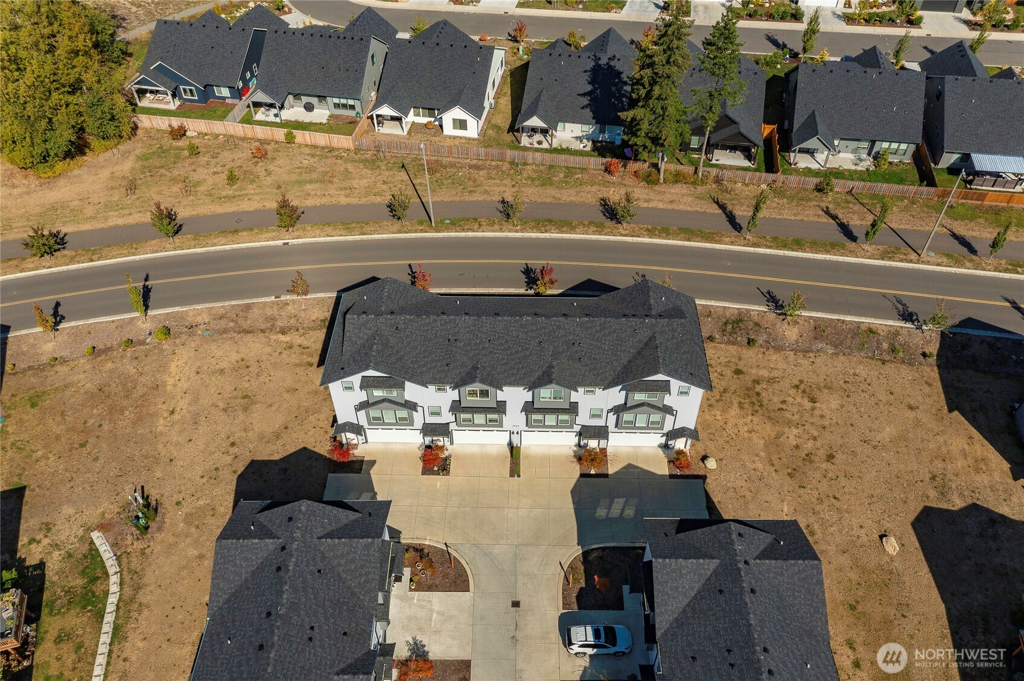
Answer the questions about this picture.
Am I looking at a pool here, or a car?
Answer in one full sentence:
It is a car that can be seen here.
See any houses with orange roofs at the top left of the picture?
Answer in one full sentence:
No, no house with an orange roof can be made out at the top left of the picture.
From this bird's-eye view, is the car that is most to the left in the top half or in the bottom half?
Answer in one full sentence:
The car that is most to the left is in the bottom half of the image.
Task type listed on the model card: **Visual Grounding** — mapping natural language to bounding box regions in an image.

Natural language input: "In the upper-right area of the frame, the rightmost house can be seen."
[918,40,1024,194]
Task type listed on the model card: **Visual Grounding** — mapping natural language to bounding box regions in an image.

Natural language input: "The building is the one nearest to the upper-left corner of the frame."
[129,3,291,110]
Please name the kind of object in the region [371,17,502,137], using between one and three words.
house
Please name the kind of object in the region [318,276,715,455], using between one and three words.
house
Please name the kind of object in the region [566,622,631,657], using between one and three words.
car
